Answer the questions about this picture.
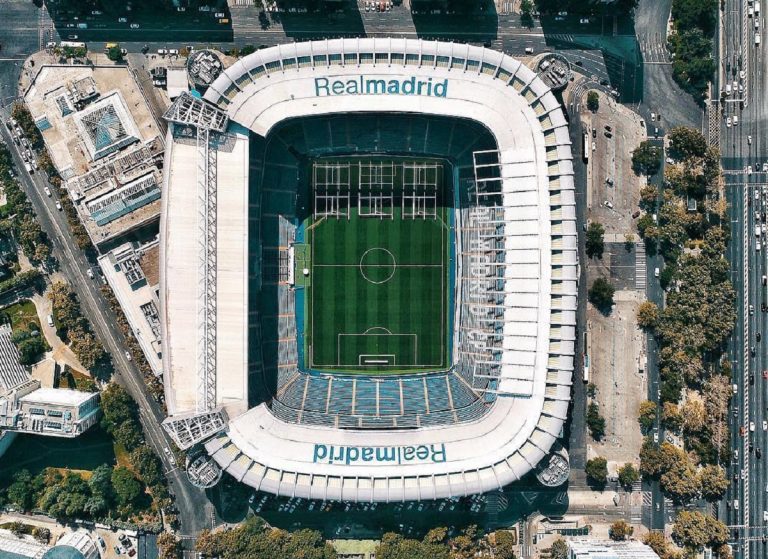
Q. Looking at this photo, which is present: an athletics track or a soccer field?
soccer field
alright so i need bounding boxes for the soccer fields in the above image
[298,157,455,374]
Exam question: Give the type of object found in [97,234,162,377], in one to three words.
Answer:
building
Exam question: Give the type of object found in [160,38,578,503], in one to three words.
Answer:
stadium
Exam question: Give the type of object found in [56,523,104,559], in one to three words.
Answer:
building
